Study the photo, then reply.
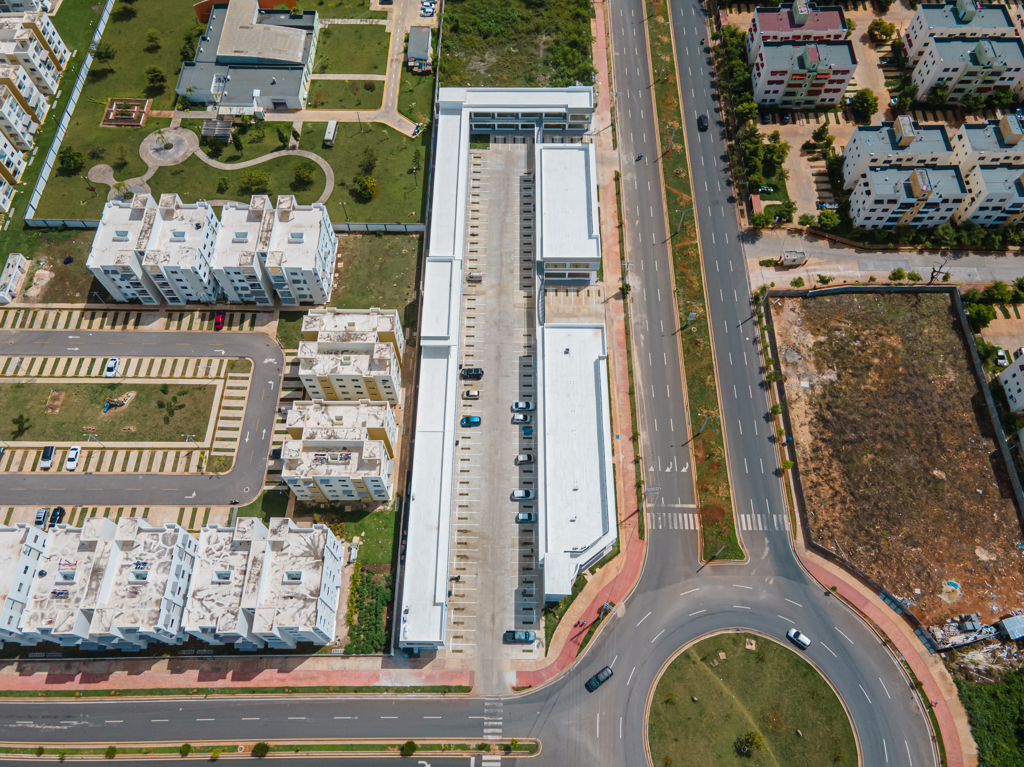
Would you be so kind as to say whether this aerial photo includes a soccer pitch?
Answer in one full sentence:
No, no soccer pitch can be seen from above.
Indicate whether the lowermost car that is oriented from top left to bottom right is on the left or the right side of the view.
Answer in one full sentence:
You can find the lowermost car that is oriented from top left to bottom right on the right side of the picture.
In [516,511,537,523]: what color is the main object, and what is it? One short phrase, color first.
blue vehicle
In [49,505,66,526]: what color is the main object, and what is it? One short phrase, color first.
black car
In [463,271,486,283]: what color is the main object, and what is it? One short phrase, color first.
gray vehicle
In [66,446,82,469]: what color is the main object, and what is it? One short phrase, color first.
white car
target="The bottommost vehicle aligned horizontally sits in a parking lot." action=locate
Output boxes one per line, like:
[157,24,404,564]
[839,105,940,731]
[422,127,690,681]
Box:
[504,631,534,644]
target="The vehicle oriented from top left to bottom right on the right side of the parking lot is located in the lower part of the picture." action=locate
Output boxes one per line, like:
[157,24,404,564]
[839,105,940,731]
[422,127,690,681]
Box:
[784,627,814,652]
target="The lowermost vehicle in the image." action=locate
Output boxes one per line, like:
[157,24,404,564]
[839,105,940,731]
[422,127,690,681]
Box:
[586,665,612,693]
